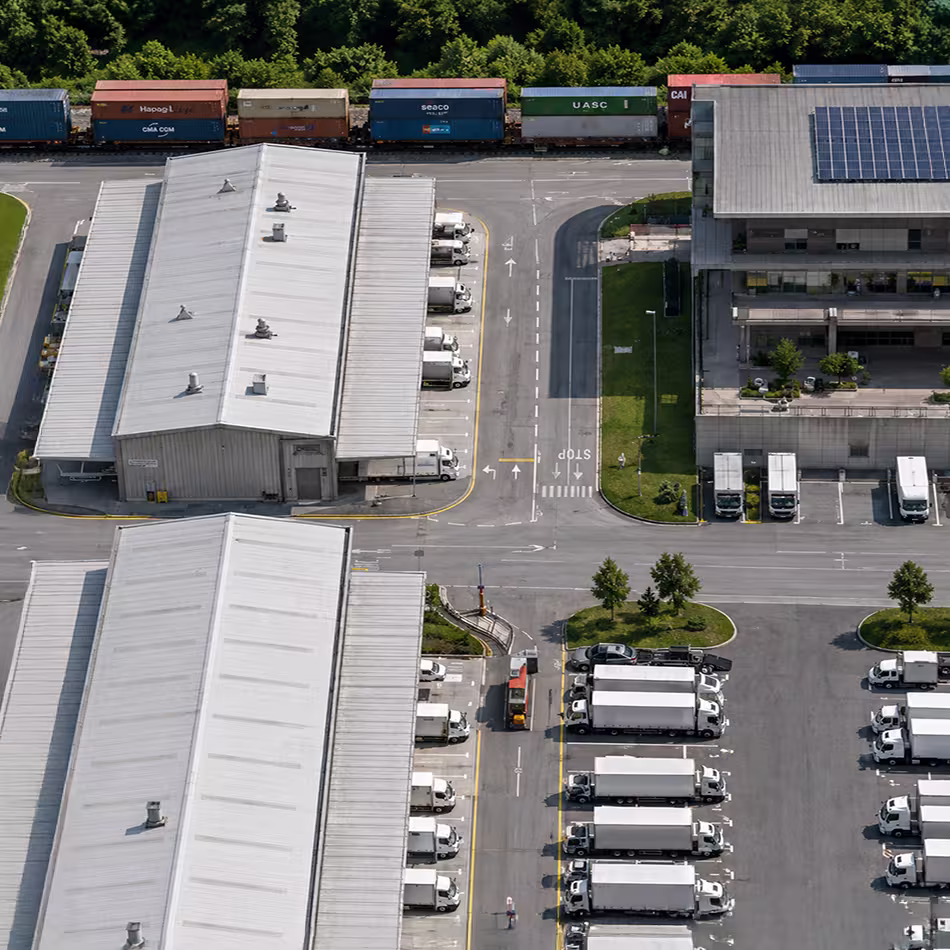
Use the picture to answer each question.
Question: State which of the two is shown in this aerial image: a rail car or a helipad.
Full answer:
Looking from above, you can make out a rail car.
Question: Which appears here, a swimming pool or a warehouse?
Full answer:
Looking from above, you can make out a warehouse.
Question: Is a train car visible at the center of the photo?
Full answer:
No, I see no train car at the center of the photo.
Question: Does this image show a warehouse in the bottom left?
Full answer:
Yes, the scene does show a warehouse in the bottom left.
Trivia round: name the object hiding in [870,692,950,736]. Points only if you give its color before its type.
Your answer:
white truck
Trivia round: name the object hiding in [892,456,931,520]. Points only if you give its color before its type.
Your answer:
white truck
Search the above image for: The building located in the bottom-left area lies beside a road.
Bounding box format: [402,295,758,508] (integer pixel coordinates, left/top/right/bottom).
[0,514,430,950]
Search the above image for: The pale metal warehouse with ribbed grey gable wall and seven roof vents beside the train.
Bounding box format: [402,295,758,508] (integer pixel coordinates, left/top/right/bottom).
[32,142,442,502]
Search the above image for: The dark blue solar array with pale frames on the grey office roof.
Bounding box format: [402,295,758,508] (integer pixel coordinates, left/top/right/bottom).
[801,107,950,186]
